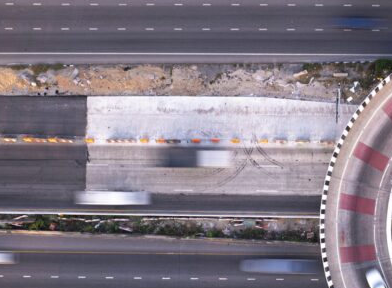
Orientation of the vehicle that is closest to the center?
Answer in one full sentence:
In this picture, the vehicle that is closest to the center is oriented from side to side.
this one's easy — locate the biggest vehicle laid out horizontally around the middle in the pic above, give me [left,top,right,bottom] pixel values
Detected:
[161,147,229,167]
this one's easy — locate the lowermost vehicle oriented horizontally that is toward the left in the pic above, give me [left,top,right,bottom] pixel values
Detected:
[87,190,136,206]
